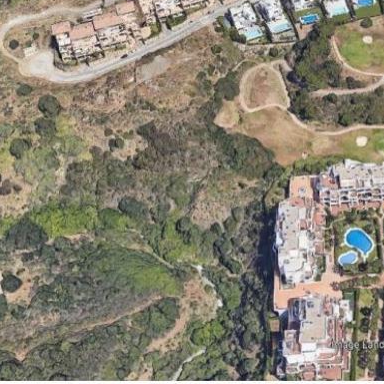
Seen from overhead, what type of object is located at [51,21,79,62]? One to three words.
house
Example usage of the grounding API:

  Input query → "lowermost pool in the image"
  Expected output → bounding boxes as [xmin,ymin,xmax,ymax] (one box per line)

[338,249,359,266]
